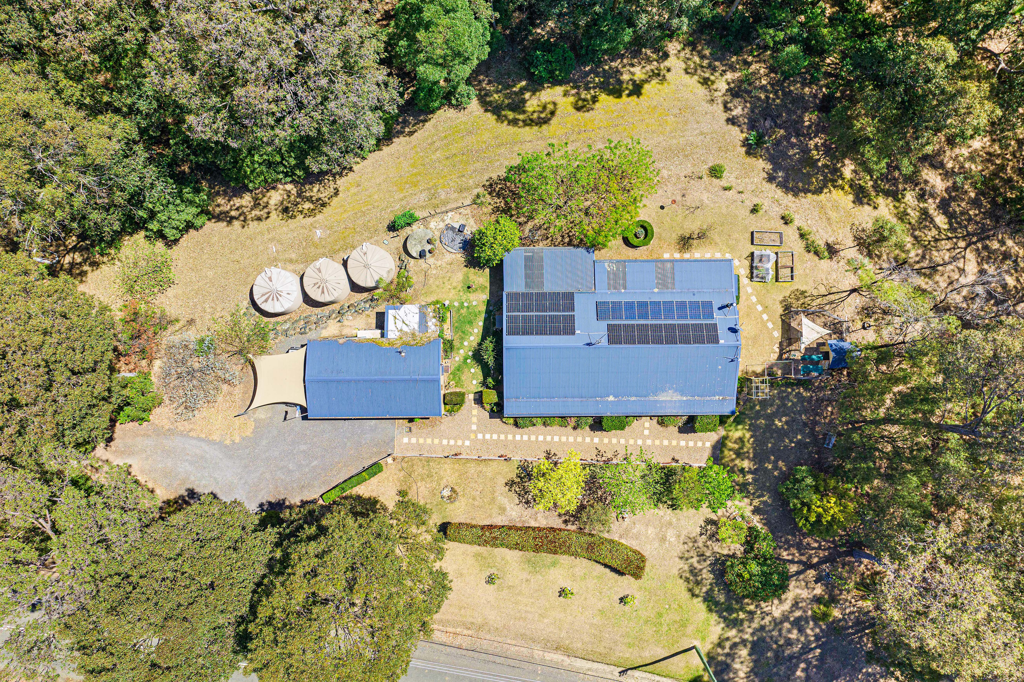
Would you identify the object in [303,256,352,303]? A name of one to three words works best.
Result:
water tank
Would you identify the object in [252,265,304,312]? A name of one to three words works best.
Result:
water tank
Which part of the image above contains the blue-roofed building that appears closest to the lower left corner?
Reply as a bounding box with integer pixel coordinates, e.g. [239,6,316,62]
[305,337,444,420]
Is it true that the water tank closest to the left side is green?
No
